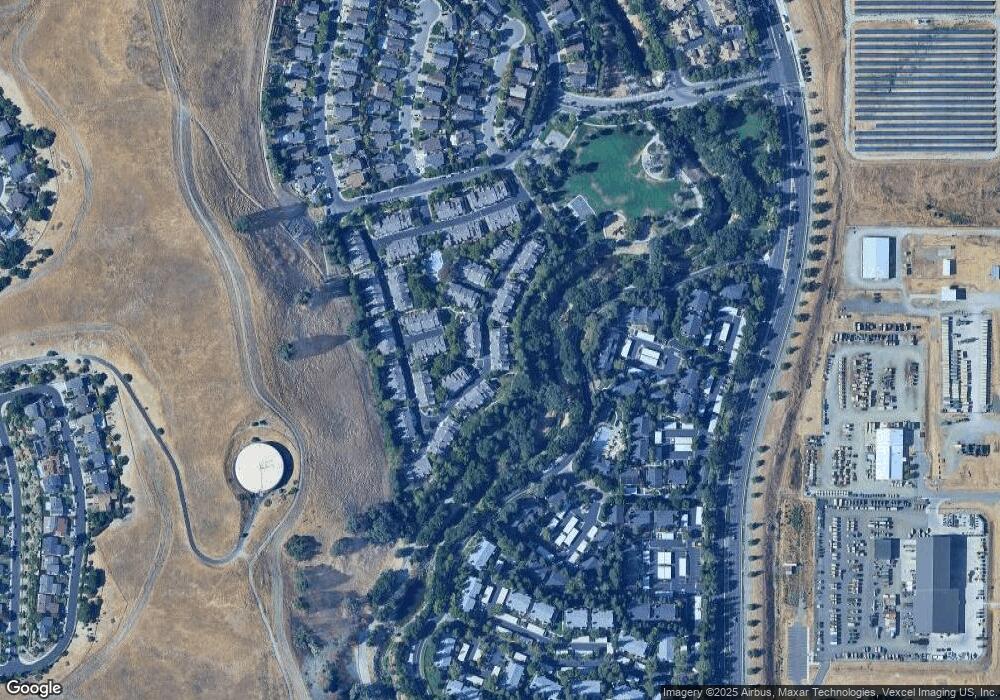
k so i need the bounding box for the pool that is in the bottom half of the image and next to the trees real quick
[593,425,622,460]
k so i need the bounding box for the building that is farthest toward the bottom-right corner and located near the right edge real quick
[916,536,958,634]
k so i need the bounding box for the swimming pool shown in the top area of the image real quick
[430,249,443,277]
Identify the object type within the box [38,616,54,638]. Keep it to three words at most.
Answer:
house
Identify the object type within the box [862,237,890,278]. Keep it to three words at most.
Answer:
barn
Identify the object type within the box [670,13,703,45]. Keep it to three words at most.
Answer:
building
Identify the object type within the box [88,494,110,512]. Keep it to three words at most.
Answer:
house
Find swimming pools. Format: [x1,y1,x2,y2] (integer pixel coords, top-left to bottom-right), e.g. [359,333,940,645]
[430,249,443,277]
[593,425,622,460]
